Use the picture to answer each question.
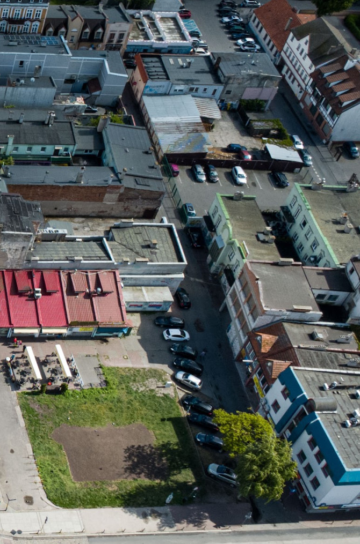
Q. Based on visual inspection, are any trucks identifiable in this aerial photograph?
No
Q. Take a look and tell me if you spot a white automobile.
Yes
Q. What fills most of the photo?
buildings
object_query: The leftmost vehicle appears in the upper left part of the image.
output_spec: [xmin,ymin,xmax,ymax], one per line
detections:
[85,103,103,116]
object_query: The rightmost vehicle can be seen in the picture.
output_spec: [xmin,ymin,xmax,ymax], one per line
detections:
[343,139,360,157]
